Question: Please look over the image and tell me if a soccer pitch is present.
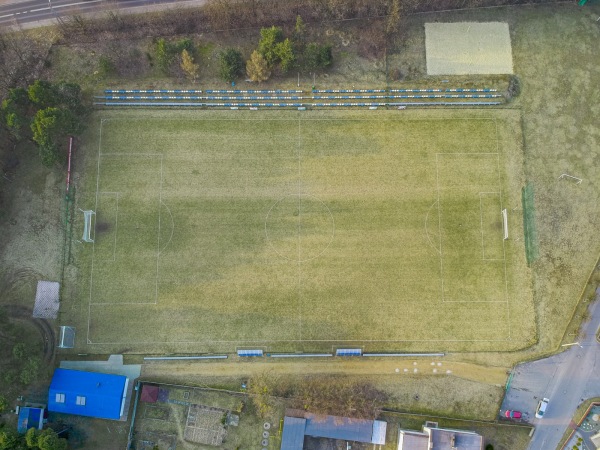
Yes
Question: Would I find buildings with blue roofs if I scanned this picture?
Yes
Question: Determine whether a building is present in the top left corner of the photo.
No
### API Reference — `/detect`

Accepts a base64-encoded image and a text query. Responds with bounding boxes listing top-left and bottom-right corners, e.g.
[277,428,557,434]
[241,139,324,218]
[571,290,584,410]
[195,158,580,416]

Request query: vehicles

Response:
[534,398,549,418]
[504,409,522,418]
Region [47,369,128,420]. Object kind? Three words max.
building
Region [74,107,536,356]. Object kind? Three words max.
soccer field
